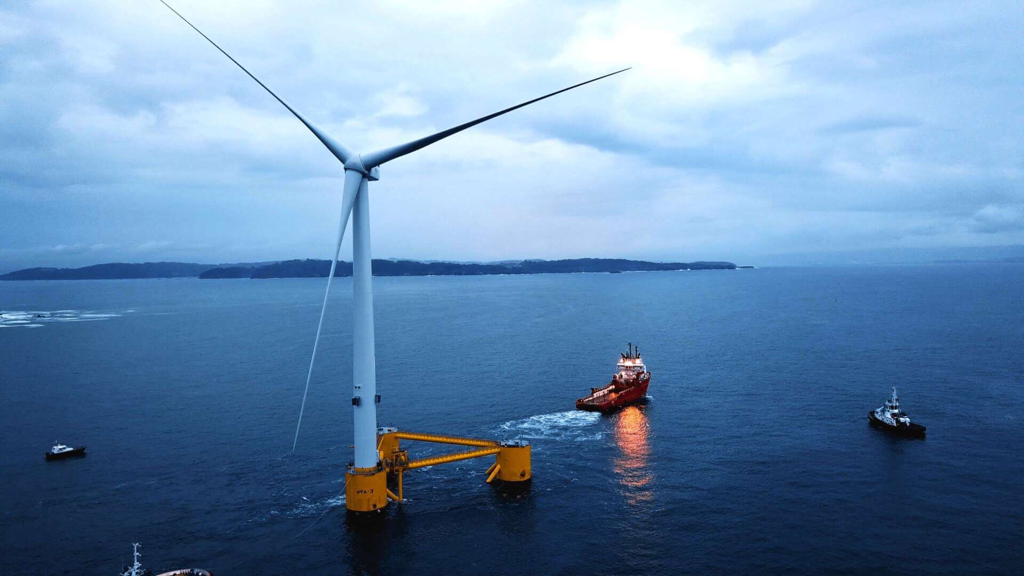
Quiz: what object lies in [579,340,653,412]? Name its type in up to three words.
ship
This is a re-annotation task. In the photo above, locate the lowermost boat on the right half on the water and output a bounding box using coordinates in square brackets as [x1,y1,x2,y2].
[871,387,930,437]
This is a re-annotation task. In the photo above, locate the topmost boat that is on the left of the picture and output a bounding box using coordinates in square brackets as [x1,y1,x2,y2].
[46,446,87,460]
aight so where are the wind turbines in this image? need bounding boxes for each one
[159,0,628,471]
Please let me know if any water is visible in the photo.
Yes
